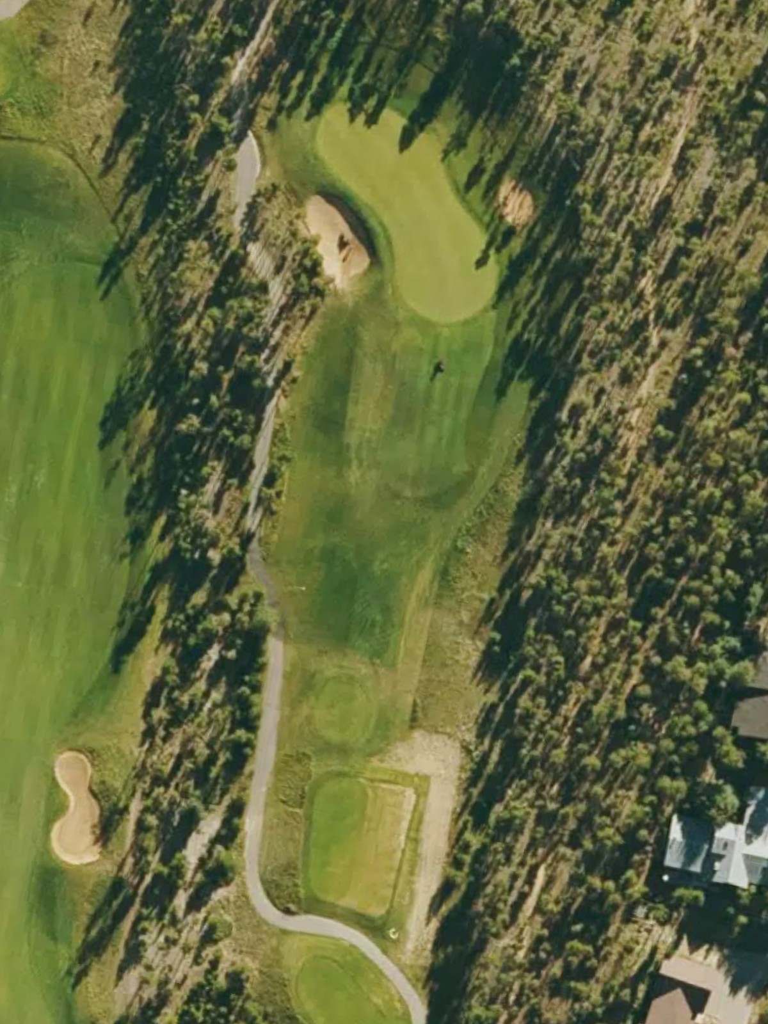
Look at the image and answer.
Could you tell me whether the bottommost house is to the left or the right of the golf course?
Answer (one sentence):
To the right of the golf course is where the bottommost house appears.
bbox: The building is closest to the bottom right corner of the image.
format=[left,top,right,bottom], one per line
[645,956,731,1024]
